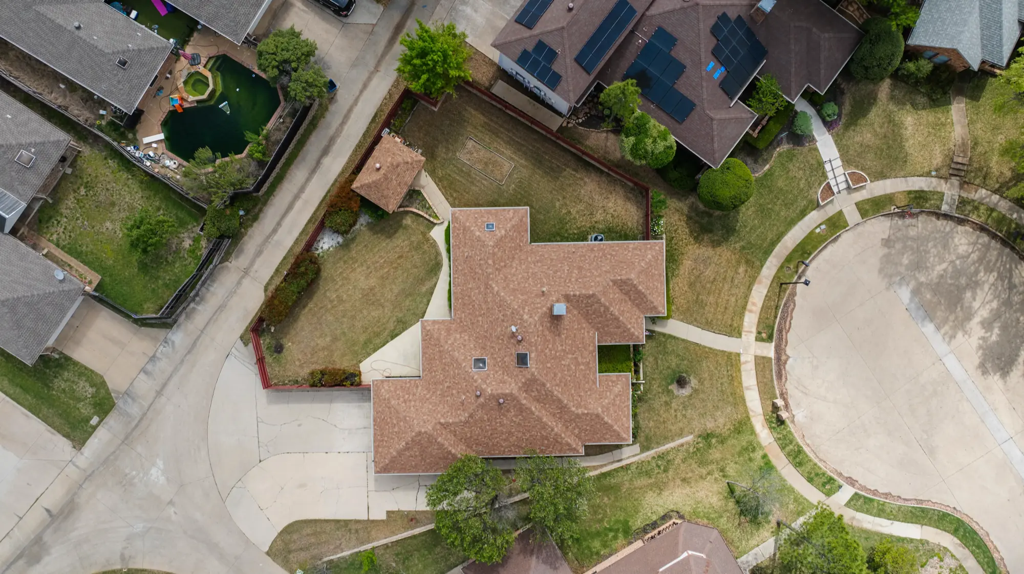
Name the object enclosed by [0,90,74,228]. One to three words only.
house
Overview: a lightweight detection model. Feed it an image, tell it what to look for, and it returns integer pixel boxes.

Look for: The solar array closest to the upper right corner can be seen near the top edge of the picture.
[709,11,768,101]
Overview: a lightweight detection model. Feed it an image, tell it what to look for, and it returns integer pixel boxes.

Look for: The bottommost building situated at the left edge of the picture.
[0,219,102,365]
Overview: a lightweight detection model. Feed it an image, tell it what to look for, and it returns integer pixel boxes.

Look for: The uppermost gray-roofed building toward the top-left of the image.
[169,0,286,51]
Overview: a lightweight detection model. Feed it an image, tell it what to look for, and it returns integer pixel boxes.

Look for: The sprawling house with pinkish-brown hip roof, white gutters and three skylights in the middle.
[371,206,667,476]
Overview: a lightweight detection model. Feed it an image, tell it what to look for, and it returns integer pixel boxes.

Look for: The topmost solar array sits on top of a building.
[515,0,555,28]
